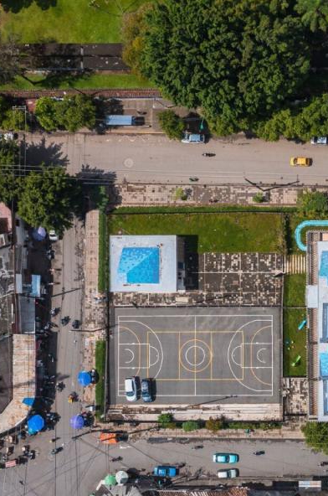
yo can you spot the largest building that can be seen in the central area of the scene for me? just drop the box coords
[109,235,184,292]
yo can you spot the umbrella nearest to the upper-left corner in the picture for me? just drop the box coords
[31,227,47,241]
